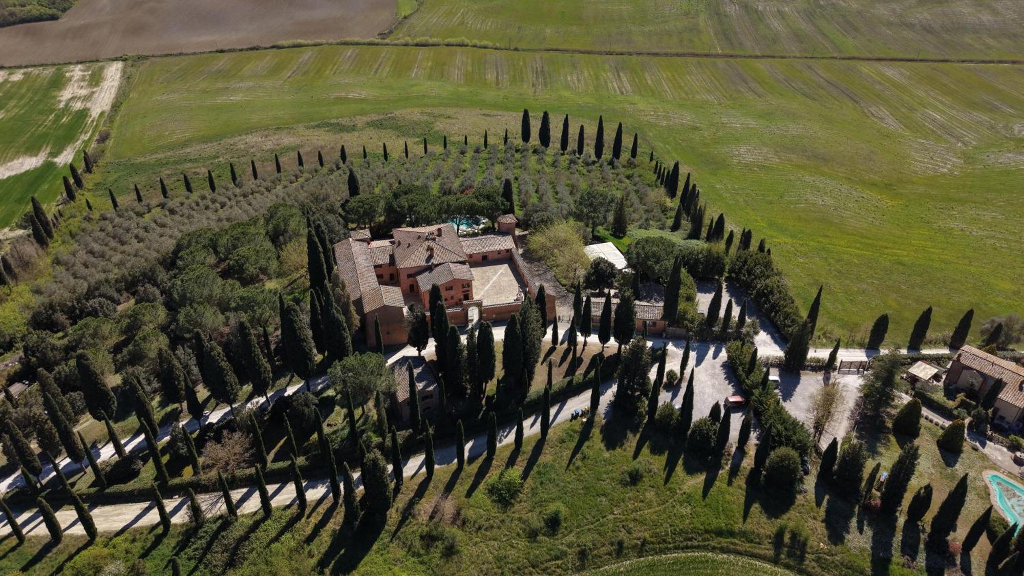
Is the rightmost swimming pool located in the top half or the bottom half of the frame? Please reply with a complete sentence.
The rightmost swimming pool sits in the bottom half of the picture.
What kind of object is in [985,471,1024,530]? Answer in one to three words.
swimming pool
